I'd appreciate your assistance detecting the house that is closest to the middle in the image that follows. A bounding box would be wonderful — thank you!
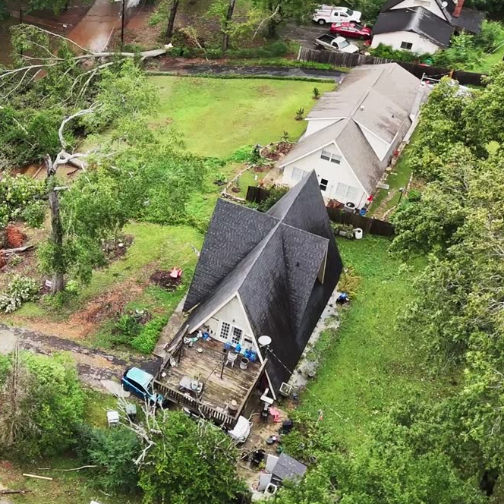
[179,167,345,396]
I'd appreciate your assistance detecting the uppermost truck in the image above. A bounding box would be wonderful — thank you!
[312,0,365,26]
